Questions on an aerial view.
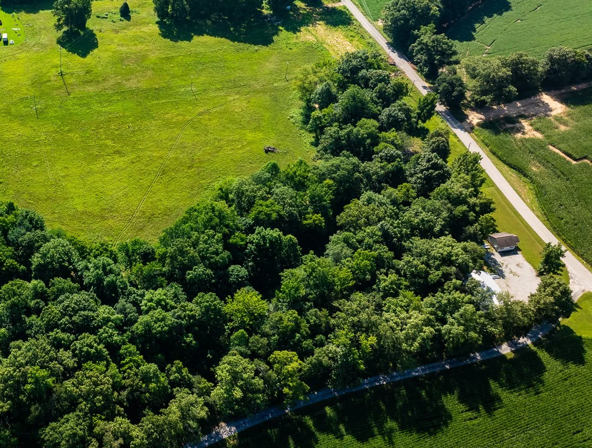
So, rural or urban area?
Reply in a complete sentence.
The area is rural.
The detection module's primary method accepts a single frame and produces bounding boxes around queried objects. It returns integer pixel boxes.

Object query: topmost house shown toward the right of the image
[487,231,520,253]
